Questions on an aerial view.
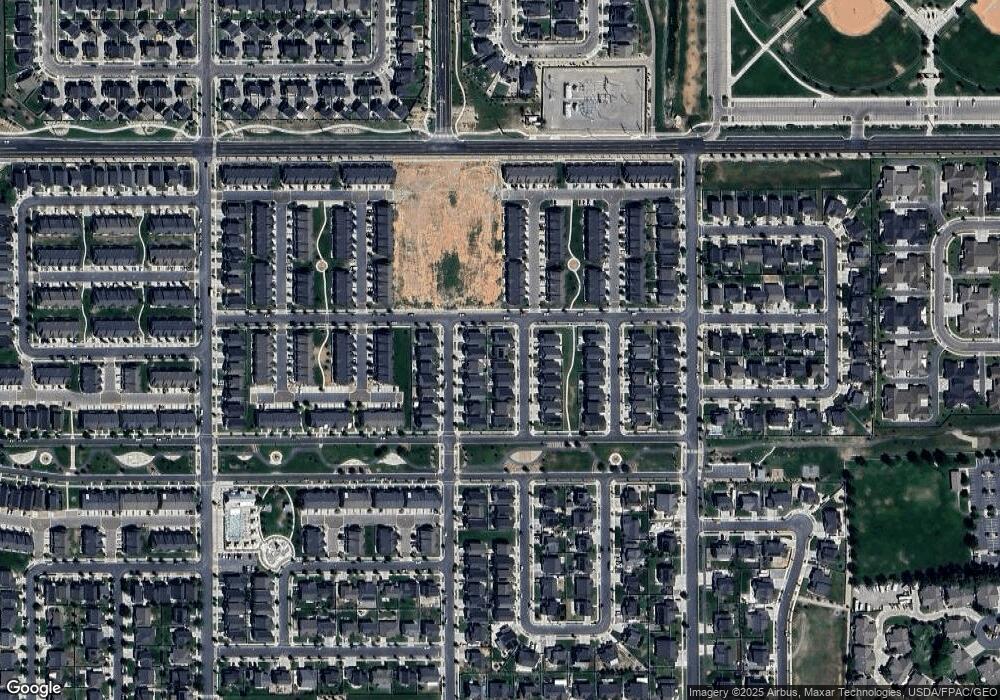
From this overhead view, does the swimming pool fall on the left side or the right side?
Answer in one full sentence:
The swimming pool sits on the left side.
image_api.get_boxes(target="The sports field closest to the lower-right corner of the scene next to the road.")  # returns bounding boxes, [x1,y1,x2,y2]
[856,462,967,573]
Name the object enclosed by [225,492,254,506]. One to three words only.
building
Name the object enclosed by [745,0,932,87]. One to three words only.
baseball field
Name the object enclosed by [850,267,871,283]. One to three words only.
house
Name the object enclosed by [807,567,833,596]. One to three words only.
house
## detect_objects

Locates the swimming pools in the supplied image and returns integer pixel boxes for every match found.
[225,500,262,548]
